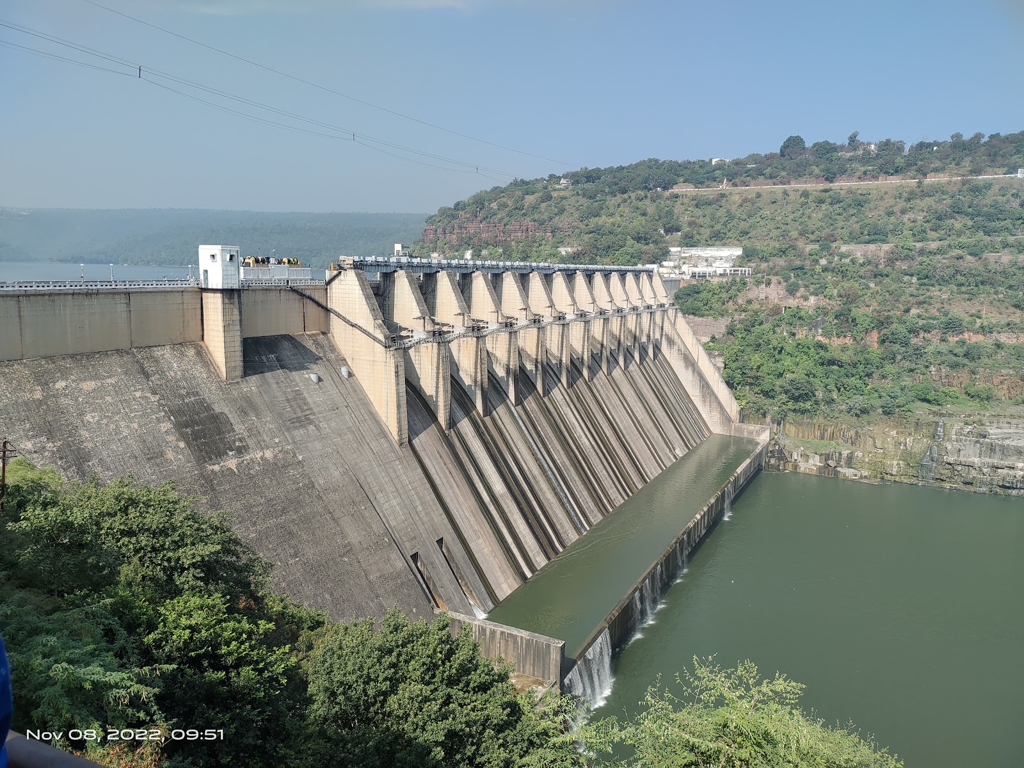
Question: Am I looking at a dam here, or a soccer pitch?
dam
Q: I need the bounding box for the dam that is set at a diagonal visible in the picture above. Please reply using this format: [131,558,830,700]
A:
[566,432,768,705]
